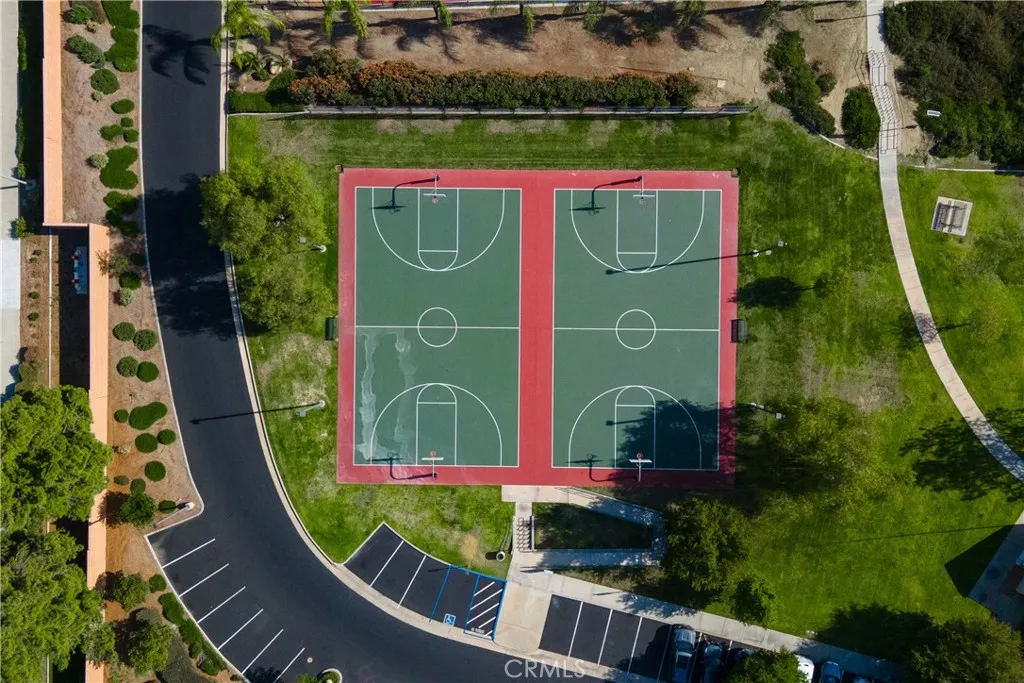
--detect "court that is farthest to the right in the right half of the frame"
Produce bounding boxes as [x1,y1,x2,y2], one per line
[536,172,738,489]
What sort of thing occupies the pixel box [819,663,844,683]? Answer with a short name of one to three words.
car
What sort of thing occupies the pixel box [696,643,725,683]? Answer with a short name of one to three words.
car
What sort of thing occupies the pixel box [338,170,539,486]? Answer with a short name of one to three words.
basketball court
